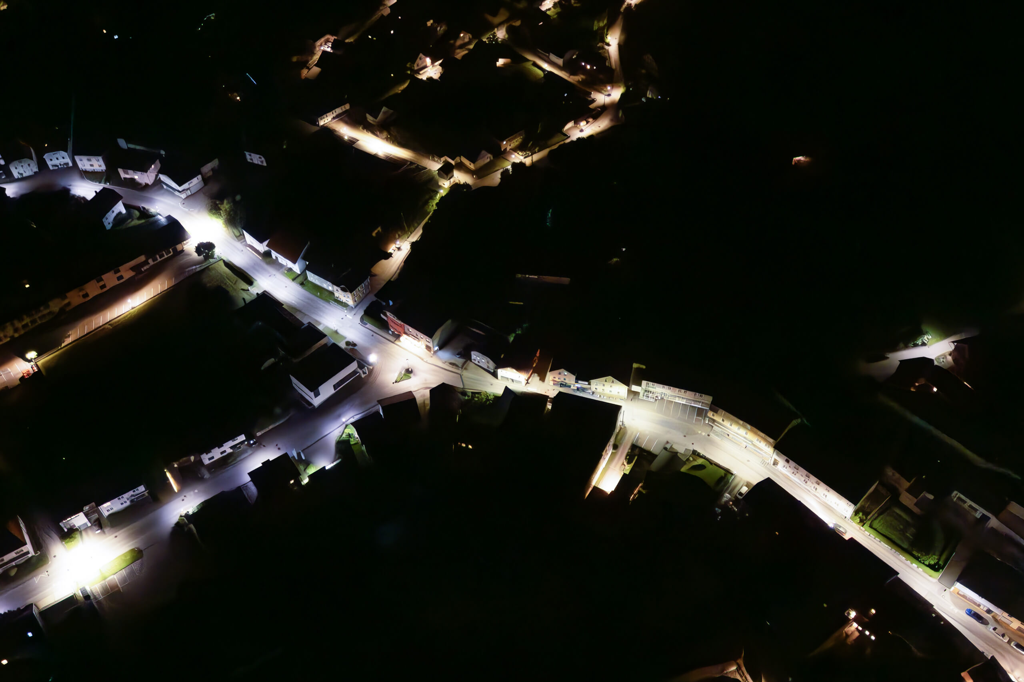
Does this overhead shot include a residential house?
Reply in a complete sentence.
Yes, looking at the shot, I can spot a residential house.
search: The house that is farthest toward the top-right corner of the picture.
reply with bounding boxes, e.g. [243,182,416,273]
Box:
[772,138,814,167]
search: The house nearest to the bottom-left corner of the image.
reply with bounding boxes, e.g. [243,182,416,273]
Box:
[0,617,52,678]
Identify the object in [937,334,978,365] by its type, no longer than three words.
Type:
shed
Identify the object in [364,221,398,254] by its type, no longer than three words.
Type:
house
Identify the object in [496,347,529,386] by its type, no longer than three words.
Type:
building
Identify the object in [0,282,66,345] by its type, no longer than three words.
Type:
building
